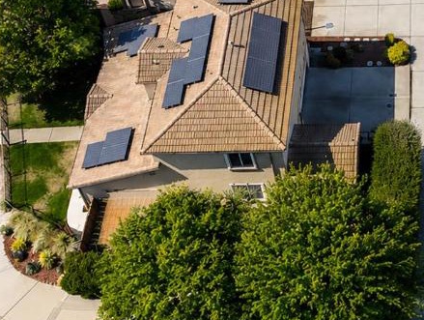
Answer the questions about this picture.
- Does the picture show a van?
No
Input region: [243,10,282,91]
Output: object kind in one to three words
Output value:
solar panel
